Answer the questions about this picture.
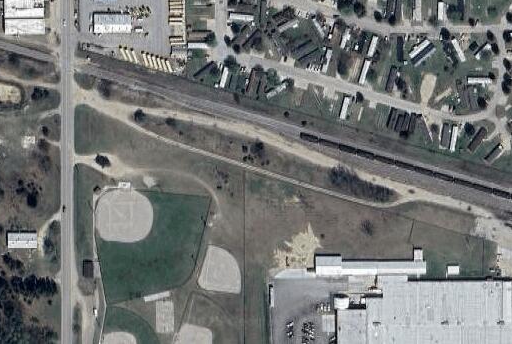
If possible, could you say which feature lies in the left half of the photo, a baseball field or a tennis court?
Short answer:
baseball field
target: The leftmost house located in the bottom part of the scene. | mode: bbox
[7,232,37,248]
